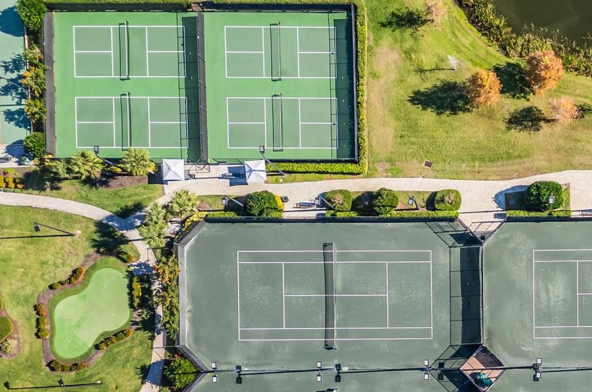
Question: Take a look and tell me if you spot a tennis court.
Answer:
Yes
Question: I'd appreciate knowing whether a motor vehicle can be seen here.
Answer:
No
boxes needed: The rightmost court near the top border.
[204,11,352,87]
